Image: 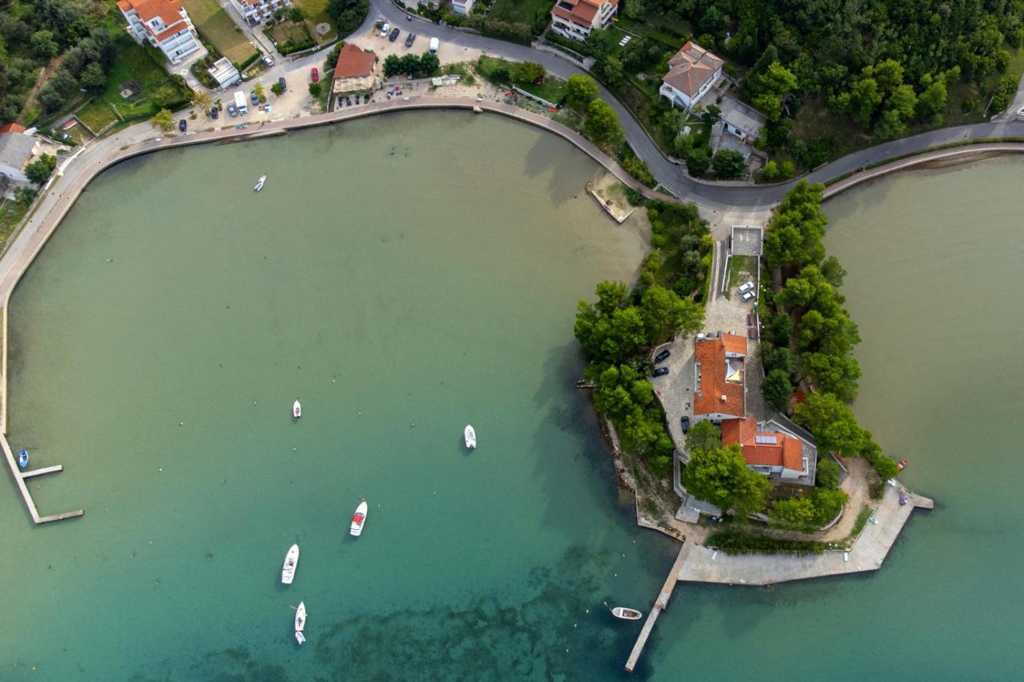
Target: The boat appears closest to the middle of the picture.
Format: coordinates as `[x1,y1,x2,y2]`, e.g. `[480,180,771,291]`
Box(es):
[464,424,476,451]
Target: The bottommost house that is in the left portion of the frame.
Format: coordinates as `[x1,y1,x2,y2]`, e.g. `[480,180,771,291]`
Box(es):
[0,132,45,186]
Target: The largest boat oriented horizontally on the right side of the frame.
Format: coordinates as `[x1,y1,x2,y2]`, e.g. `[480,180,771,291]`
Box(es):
[612,606,642,619]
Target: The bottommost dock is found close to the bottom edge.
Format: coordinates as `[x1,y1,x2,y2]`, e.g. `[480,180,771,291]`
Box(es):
[624,542,687,674]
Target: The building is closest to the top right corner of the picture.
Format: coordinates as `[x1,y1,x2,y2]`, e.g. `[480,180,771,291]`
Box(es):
[720,91,780,140]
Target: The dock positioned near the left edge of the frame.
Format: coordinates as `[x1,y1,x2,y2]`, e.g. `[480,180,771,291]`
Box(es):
[0,432,86,528]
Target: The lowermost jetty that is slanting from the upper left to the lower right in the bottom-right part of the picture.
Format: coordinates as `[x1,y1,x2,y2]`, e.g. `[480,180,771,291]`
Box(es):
[899,483,934,511]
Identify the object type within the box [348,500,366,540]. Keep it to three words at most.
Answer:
boat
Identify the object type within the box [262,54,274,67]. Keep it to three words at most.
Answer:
vehicle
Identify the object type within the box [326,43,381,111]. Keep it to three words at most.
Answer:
building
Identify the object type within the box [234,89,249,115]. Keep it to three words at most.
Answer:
camper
